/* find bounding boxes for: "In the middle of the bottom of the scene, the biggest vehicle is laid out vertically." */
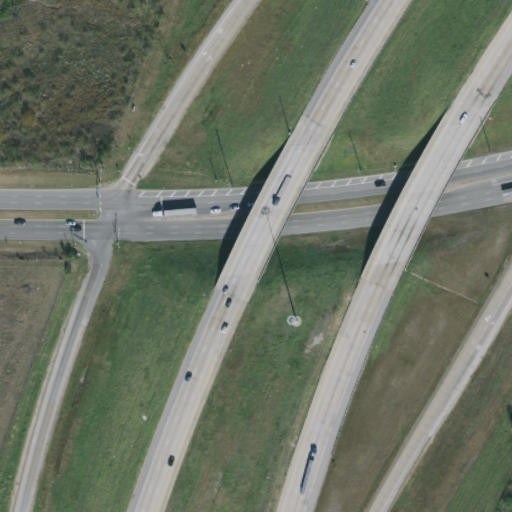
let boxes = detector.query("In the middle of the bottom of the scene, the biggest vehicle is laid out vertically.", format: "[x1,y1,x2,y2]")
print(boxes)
[301,444,318,493]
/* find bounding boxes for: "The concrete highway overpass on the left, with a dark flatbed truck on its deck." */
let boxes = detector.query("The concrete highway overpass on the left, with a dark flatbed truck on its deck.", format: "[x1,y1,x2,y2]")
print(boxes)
[214,113,336,304]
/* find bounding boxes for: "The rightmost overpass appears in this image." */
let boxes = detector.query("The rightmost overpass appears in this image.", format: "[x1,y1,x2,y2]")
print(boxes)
[358,98,488,298]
